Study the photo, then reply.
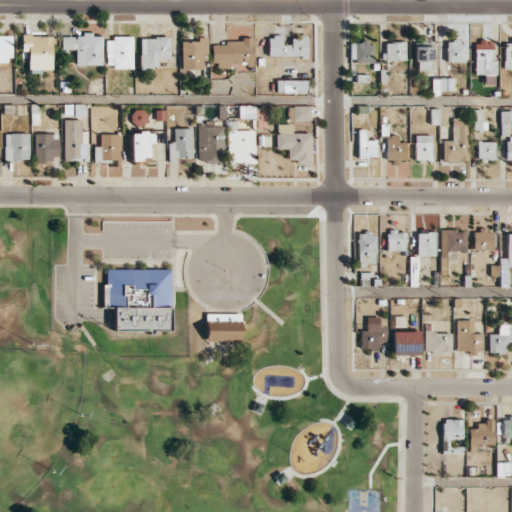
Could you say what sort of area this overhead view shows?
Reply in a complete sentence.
This looks like a residential area.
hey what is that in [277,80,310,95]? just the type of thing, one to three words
shed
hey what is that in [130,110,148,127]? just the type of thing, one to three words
gazebo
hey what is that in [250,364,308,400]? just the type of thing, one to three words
playground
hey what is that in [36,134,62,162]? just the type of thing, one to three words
house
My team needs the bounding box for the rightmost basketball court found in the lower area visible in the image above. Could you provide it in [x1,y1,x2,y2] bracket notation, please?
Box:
[348,490,380,512]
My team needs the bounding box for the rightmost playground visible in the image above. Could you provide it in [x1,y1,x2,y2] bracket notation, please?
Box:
[290,422,341,477]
